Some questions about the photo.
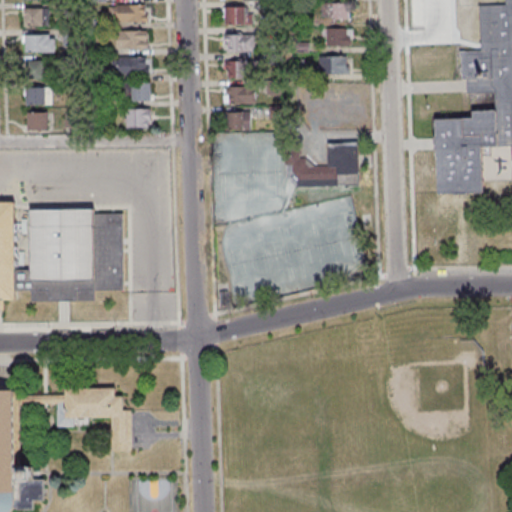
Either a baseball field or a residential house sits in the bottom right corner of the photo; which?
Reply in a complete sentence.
What appears in the bottom right corner of the photo is a baseball field.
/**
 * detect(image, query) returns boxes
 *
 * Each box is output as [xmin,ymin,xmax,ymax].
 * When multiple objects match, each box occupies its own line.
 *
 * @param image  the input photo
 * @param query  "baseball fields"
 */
[390,352,476,439]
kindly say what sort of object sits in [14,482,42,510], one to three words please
building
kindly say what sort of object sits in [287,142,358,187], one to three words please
building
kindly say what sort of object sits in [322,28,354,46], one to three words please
house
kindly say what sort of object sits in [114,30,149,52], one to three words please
house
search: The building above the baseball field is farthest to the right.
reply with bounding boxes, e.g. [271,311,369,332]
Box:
[434,0,512,193]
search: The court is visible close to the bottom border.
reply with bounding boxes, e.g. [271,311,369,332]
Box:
[129,476,179,512]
